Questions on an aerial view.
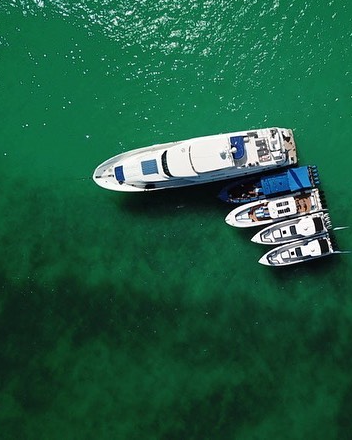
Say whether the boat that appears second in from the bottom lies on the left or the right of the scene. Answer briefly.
right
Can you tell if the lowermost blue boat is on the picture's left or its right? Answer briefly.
right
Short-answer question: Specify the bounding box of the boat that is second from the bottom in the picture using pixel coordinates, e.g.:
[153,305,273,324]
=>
[251,212,350,244]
